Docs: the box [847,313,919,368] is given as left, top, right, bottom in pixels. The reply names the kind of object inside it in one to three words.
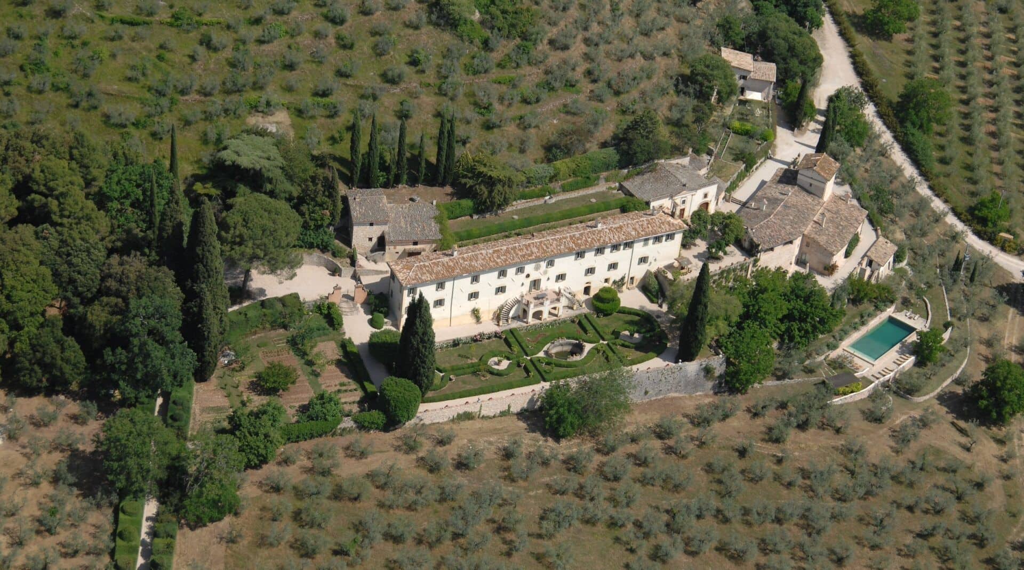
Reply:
swimming pool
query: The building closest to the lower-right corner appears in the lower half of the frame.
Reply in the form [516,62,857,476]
[825,372,861,392]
